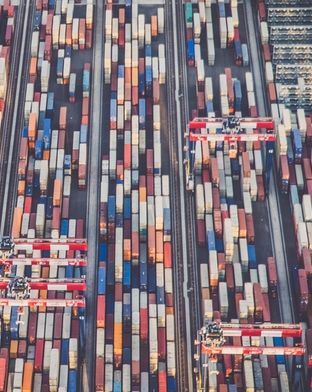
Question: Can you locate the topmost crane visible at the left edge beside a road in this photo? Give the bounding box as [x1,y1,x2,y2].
[0,235,86,316]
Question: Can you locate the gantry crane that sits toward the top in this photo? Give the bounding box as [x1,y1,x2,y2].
[185,115,273,191]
